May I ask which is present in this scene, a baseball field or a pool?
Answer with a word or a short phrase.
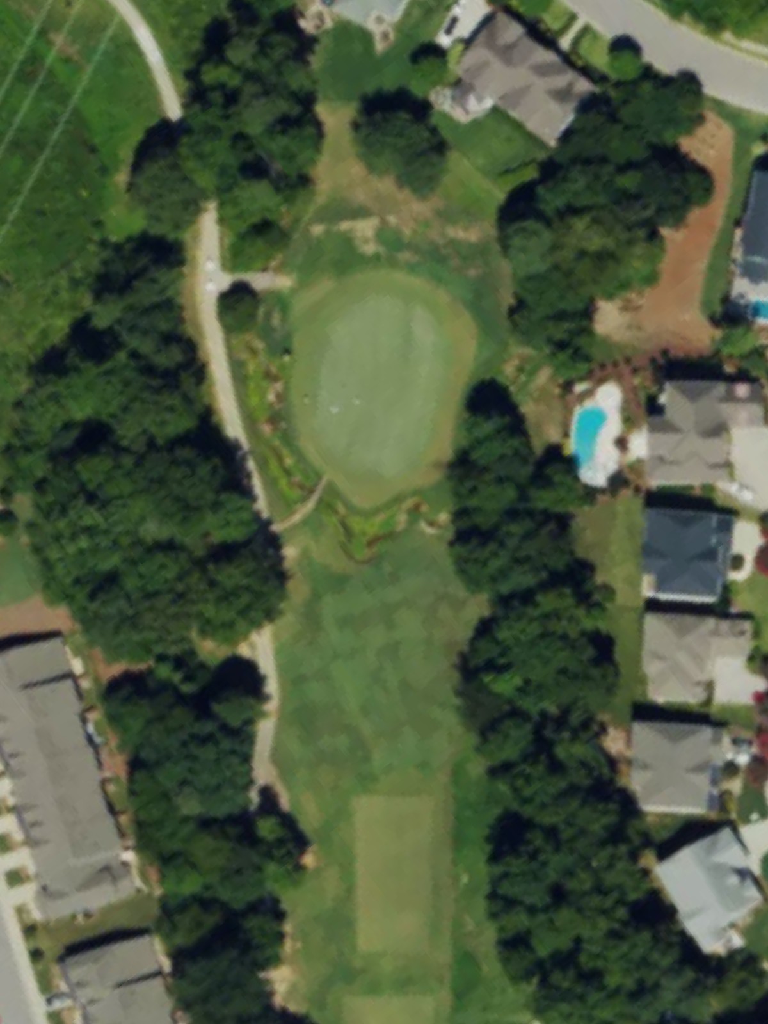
pool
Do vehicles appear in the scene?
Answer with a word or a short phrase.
Yes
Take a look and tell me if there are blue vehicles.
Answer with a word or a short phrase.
No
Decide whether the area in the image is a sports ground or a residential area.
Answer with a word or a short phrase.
residential area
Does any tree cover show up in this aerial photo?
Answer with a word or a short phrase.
Yes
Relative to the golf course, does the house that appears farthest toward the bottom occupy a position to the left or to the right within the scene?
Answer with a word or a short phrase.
left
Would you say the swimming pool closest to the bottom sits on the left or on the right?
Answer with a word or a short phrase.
right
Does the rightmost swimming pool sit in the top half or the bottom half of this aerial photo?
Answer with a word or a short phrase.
top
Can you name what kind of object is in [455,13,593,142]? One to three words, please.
house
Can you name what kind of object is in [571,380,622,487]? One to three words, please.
swimming pool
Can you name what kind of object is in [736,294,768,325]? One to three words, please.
swimming pool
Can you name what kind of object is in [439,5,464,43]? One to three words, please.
truck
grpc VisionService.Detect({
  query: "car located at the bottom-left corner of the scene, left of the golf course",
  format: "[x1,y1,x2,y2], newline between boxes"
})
[45,994,71,1010]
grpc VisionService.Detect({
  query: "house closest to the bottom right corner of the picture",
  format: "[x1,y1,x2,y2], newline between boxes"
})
[657,828,765,954]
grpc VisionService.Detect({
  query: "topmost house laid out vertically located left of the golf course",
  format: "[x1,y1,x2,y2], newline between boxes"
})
[0,637,134,918]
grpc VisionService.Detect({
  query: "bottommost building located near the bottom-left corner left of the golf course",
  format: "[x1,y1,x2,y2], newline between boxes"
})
[63,931,176,1024]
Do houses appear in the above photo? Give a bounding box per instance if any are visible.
[324,0,412,30]
[739,168,768,288]
[632,722,724,813]
[63,931,176,1024]
[642,612,753,701]
[657,828,765,954]
[455,13,593,142]
[0,637,134,918]
[648,381,765,485]
[644,510,733,603]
